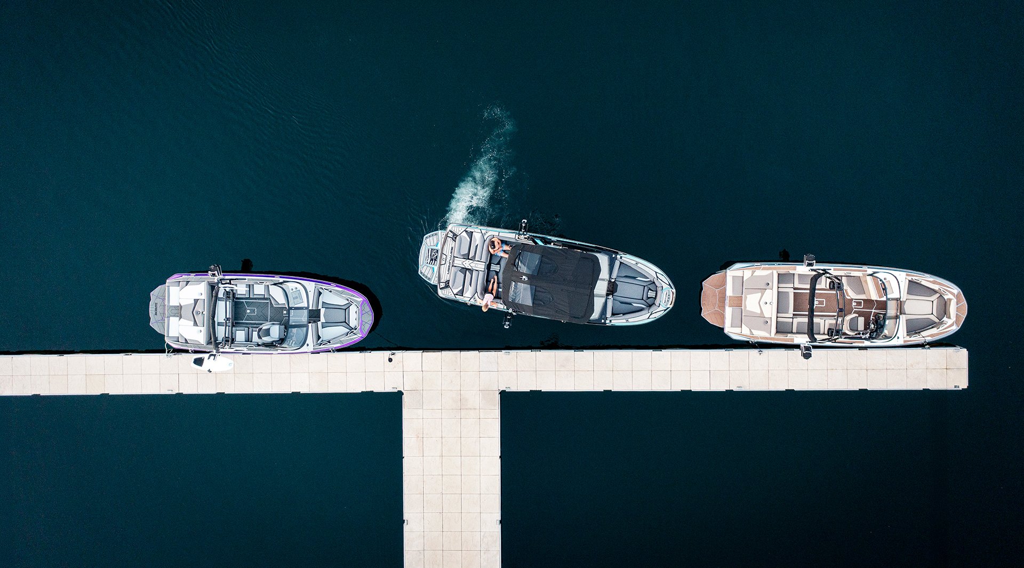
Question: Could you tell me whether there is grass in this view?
No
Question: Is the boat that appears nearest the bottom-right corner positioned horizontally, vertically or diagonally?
horizontally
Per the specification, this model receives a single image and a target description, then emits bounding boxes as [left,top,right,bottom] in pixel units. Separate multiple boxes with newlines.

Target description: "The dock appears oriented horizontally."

[0,347,968,568]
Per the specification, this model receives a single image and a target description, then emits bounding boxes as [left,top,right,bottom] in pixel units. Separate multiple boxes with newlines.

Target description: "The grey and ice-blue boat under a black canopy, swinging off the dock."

[419,219,676,329]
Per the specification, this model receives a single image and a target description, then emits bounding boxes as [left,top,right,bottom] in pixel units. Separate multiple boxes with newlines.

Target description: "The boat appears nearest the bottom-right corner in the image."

[700,252,967,360]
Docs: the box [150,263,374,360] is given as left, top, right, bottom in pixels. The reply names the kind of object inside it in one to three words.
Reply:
boat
